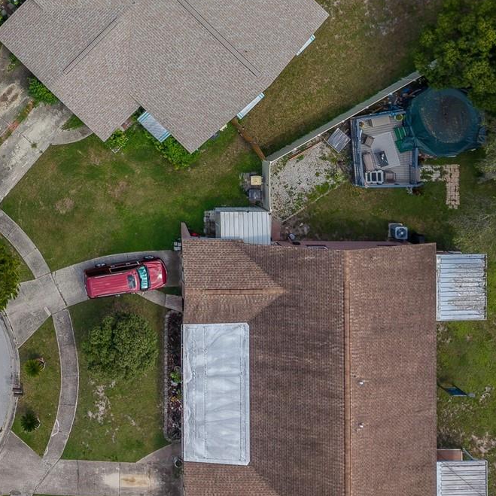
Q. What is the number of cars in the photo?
1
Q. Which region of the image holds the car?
left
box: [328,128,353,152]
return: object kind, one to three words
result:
solar panel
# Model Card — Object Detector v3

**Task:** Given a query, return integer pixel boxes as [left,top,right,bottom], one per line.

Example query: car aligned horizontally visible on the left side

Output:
[82,255,167,299]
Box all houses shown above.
[0,0,328,153]
[180,233,436,496]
